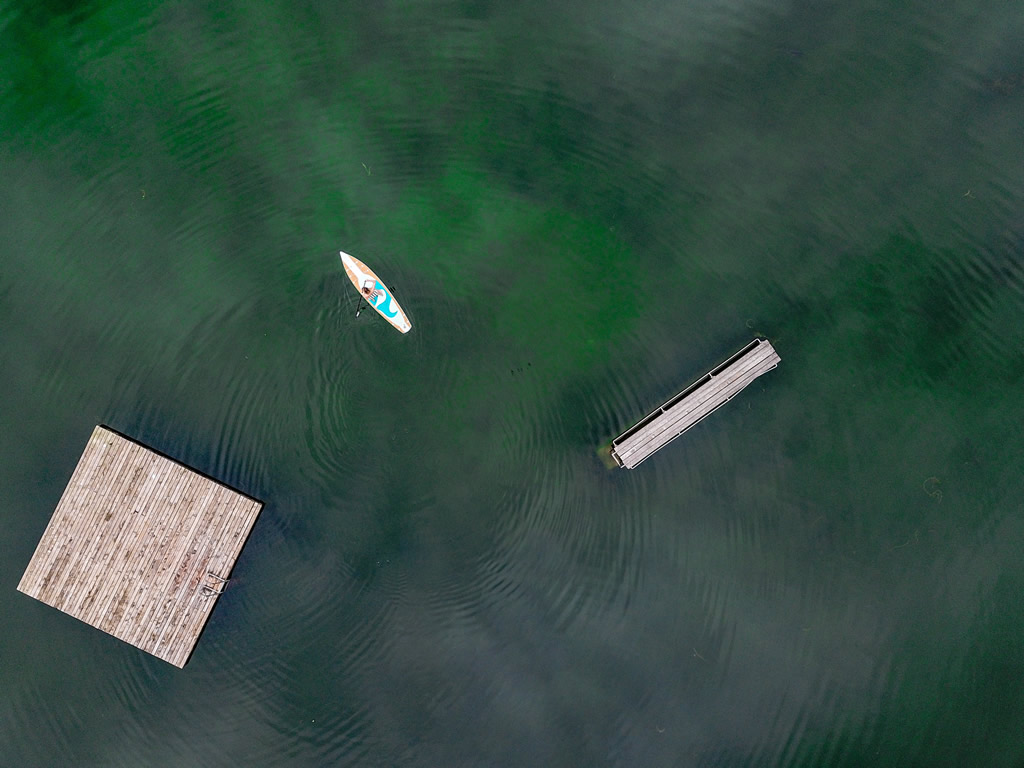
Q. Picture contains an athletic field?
No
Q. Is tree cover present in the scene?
No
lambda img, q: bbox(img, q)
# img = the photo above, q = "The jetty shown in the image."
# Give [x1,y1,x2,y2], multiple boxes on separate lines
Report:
[609,338,781,469]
